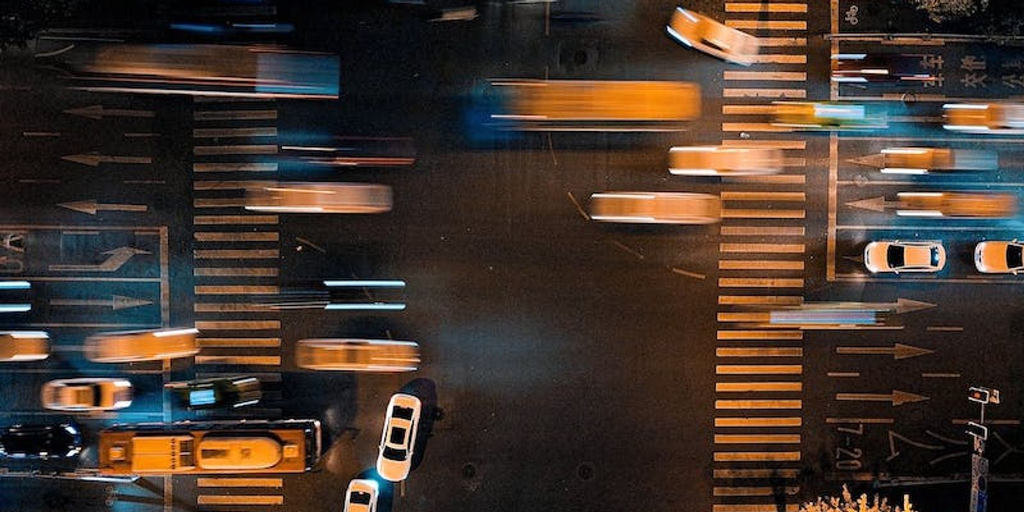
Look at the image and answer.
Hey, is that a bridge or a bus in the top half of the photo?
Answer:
bus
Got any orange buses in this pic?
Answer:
Yes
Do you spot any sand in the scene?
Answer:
No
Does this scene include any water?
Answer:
No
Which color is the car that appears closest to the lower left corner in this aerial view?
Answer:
black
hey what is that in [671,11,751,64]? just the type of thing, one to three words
car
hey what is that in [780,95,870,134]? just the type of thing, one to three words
car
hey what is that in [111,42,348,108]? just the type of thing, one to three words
bus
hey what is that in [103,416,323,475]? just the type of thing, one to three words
bus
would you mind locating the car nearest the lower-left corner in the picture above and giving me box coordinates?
[0,421,89,461]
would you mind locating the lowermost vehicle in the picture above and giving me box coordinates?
[344,474,382,512]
